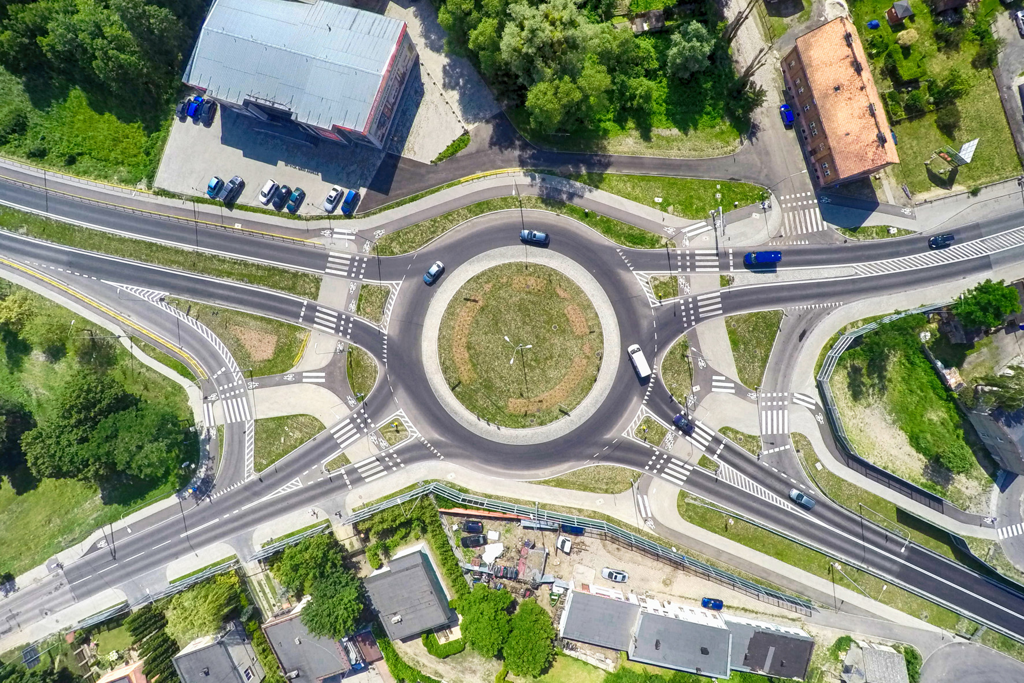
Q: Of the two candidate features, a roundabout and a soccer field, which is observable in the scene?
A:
roundabout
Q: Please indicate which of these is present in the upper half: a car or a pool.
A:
car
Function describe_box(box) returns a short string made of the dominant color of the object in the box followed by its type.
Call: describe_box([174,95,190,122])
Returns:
black car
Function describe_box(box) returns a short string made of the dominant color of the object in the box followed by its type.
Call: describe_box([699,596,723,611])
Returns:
blue car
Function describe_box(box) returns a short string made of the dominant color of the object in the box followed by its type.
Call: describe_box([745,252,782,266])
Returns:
blue vehicle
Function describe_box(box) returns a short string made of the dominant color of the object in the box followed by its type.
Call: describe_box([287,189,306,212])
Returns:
blue car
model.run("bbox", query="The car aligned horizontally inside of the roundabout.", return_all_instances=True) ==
[520,230,550,245]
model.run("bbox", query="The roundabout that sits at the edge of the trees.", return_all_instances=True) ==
[391,212,655,477]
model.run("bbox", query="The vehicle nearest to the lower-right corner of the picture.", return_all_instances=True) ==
[786,487,818,510]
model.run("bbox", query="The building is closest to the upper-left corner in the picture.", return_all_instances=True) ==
[180,0,421,165]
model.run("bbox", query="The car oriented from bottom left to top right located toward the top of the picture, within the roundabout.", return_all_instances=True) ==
[423,259,446,286]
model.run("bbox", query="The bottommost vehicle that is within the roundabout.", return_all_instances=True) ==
[629,345,651,378]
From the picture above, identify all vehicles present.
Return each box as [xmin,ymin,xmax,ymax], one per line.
[186,95,204,122]
[560,521,586,535]
[745,252,782,266]
[460,520,484,533]
[555,536,574,551]
[520,230,550,245]
[786,487,818,510]
[199,97,218,127]
[273,184,293,212]
[461,533,489,548]
[699,596,723,611]
[259,179,278,205]
[324,184,344,213]
[629,345,651,378]
[423,259,446,286]
[670,411,698,437]
[207,175,225,198]
[600,566,629,582]
[220,174,244,205]
[923,233,958,249]
[341,188,360,214]
[174,95,190,122]
[287,189,306,212]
